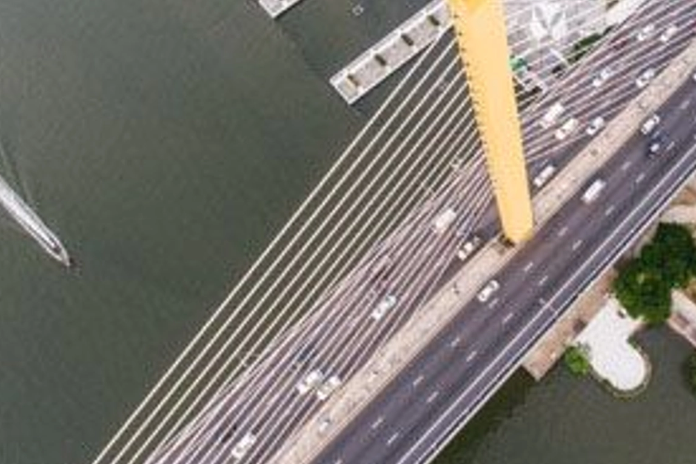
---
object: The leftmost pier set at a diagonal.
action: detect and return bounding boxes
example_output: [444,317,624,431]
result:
[330,8,450,105]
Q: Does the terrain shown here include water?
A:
Yes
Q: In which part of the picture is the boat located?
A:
left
